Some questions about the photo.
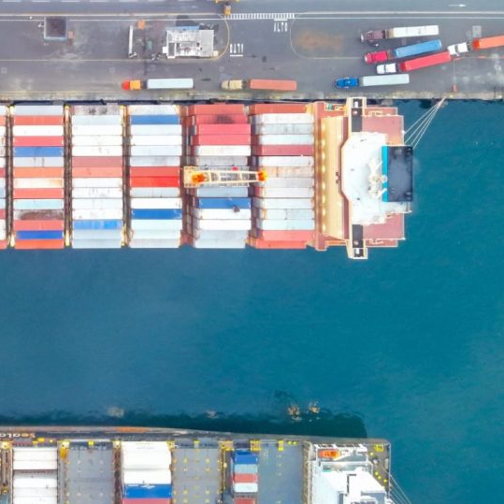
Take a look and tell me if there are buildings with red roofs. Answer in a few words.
No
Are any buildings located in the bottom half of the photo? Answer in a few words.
No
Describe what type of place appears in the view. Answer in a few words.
port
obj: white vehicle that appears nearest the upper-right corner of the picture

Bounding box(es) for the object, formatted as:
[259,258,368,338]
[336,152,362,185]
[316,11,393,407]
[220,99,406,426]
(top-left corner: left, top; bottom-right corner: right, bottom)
[444,42,472,55]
